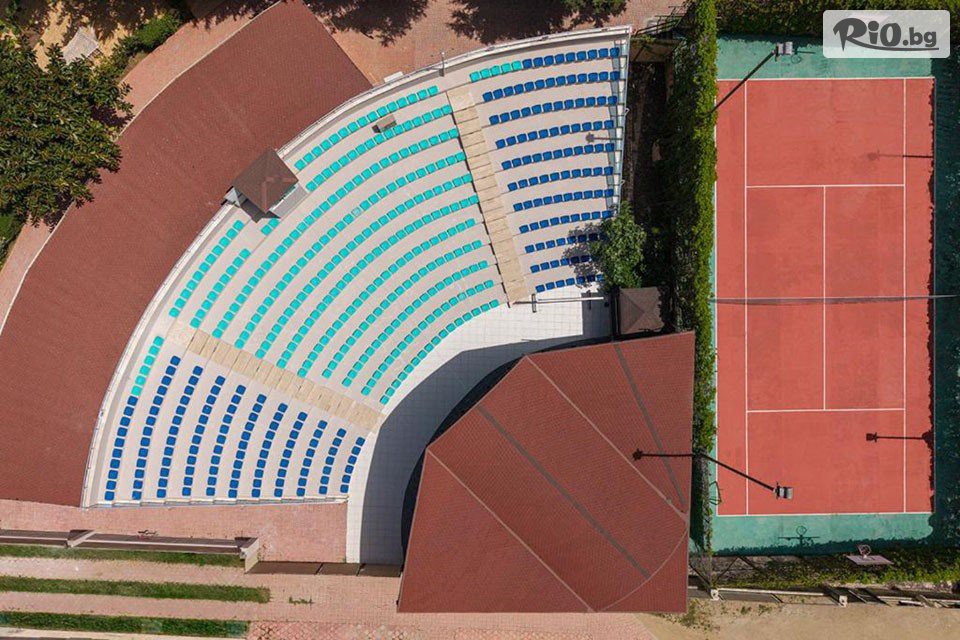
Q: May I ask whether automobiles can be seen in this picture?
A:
No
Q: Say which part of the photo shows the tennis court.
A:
right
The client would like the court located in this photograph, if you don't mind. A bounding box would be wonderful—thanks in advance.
[708,34,960,556]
